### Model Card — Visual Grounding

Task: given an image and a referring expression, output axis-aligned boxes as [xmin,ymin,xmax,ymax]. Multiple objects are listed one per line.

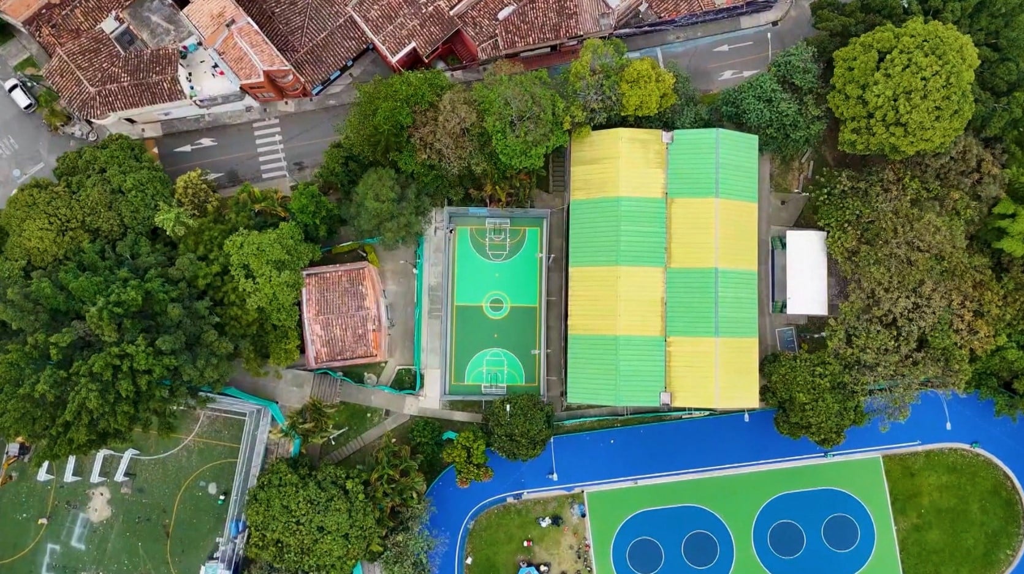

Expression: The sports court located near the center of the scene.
[439,198,557,408]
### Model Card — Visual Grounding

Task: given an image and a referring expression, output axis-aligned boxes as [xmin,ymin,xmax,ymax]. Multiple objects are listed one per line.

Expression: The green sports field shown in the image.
[0,402,247,574]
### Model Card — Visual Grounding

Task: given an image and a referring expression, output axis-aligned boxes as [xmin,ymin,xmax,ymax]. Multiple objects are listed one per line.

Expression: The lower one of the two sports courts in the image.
[586,455,903,574]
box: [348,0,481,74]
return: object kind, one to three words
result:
house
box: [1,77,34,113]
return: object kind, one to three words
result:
car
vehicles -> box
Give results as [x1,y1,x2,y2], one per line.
[1,77,34,113]
[0,443,31,483]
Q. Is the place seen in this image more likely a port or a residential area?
residential area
